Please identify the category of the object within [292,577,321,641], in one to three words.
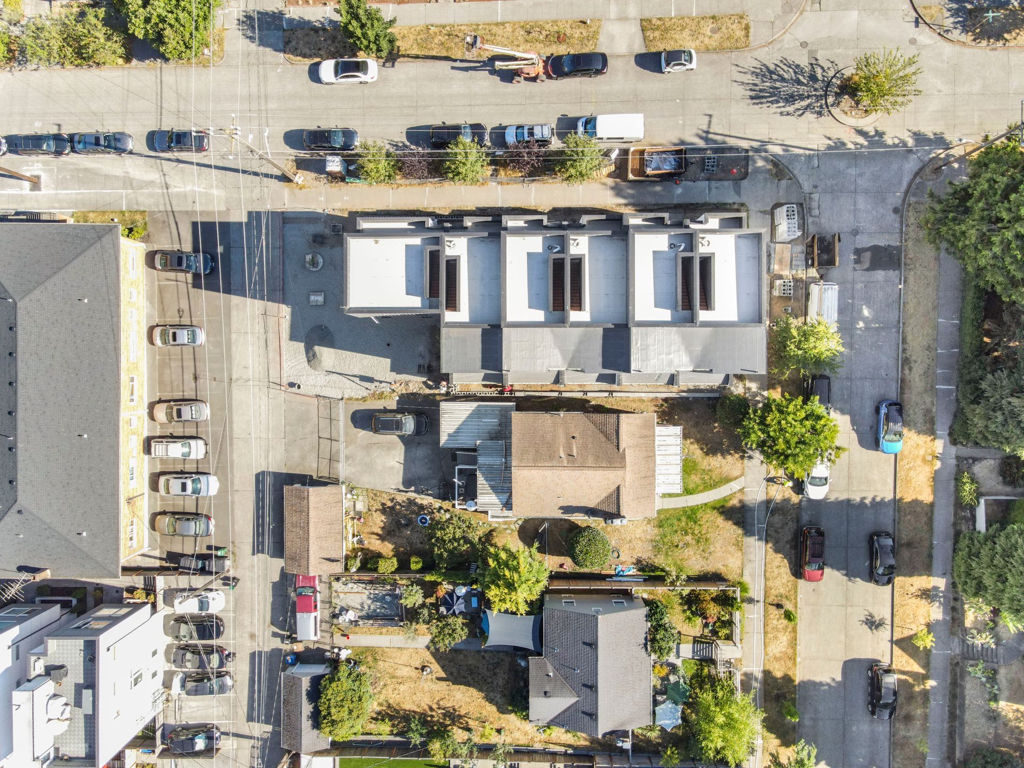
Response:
truck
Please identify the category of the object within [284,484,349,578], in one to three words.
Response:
building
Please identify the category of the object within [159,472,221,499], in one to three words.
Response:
car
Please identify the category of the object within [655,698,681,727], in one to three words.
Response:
umbrella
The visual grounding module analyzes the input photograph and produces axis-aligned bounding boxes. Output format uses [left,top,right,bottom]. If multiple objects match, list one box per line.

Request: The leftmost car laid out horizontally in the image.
[7,129,74,159]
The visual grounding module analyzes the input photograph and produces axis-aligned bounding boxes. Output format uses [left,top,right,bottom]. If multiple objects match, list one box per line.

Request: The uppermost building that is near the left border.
[0,223,148,580]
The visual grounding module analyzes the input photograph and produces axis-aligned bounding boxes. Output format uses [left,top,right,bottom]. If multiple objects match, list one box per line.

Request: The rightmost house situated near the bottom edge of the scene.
[529,595,652,737]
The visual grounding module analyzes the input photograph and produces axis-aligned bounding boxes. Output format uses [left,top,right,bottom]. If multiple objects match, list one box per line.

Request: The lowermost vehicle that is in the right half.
[867,661,899,719]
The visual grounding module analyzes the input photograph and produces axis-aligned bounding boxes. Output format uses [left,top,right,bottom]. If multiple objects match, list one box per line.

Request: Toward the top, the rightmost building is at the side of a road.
[618,213,768,385]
